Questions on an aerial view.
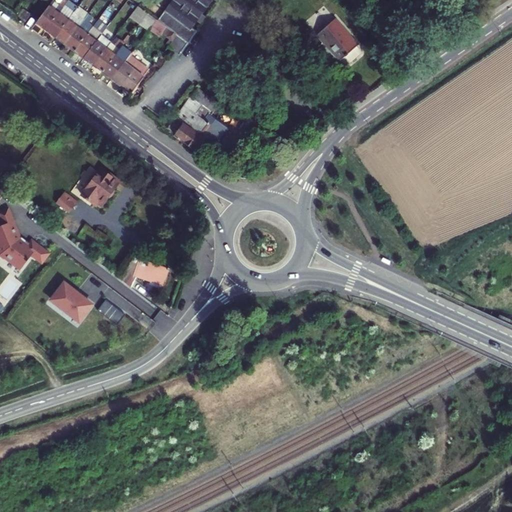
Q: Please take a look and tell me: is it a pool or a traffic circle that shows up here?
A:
traffic circle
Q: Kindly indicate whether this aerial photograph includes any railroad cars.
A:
No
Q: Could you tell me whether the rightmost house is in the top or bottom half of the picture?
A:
top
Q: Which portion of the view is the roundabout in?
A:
center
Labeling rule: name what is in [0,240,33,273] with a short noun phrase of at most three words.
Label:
house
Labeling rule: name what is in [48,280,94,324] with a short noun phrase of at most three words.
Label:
house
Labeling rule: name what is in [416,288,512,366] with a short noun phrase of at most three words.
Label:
bridge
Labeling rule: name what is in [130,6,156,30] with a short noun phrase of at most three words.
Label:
shed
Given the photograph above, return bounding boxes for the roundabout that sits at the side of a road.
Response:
[214,190,318,292]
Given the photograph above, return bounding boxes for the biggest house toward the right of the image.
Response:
[318,18,358,60]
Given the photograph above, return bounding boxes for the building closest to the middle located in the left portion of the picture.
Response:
[134,262,168,286]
